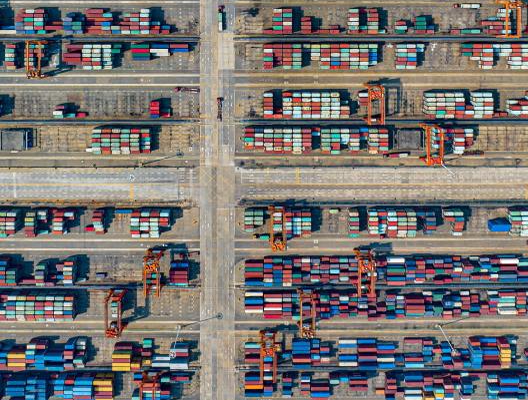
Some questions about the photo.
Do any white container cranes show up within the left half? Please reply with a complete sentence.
No, I can find no white container crane within the left half.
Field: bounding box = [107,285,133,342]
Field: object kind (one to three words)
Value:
container crane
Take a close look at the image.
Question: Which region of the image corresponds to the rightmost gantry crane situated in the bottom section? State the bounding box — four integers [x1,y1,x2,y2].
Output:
[351,244,374,298]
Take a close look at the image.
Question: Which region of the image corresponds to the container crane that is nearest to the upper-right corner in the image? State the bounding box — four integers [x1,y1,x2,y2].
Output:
[490,0,519,42]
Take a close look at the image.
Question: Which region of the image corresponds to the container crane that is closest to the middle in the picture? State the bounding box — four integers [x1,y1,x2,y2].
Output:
[267,205,287,259]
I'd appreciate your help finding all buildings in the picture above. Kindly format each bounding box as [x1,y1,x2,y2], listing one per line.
[0,130,31,153]
[392,130,426,152]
